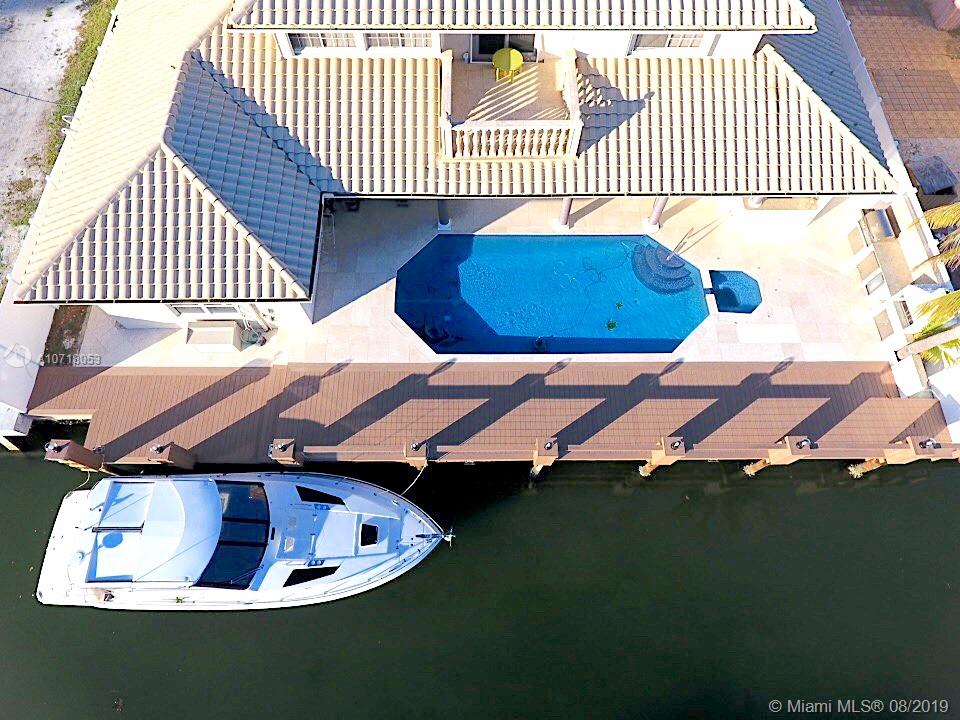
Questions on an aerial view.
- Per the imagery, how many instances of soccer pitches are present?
zero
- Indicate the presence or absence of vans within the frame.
No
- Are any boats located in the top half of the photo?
No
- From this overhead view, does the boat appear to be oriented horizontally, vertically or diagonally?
horizontally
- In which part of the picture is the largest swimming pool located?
center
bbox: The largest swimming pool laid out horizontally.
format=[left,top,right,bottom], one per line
[389,231,714,357]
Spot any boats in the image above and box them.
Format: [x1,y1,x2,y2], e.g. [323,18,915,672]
[39,468,456,613]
